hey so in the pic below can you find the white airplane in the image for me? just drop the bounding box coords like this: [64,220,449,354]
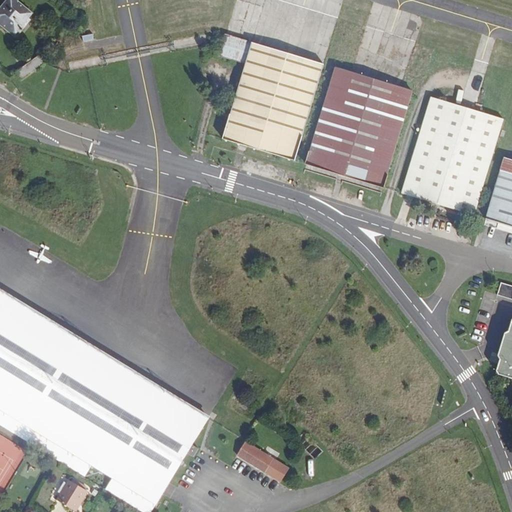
[28,244,52,264]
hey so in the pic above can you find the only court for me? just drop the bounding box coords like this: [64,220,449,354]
[0,438,24,488]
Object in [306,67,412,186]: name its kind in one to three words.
hangar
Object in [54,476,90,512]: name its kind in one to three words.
house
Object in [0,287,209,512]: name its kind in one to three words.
hangar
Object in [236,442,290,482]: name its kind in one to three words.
building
